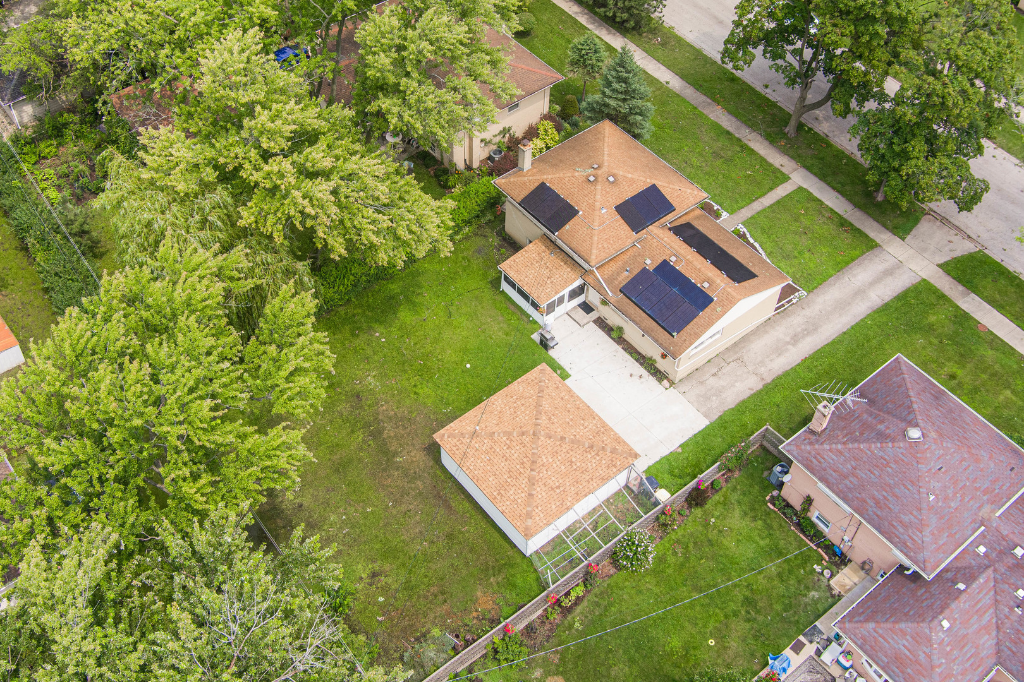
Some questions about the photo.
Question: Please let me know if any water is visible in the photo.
No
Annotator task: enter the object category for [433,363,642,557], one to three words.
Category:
building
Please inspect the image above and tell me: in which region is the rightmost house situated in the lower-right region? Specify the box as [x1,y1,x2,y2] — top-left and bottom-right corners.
[776,352,1024,682]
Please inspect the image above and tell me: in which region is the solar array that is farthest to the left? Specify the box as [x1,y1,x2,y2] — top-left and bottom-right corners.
[519,181,581,235]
